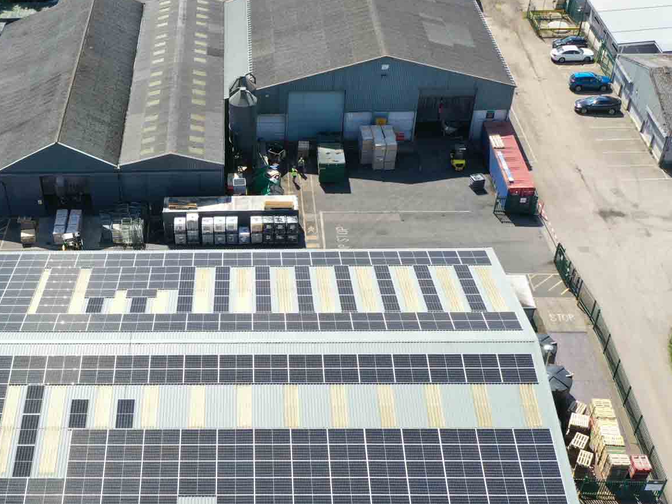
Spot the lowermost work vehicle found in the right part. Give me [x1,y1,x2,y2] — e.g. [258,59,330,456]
[451,141,466,168]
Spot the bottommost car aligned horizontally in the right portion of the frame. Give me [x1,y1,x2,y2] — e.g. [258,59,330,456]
[576,96,624,115]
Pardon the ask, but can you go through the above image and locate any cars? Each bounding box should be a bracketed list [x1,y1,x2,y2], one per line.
[553,30,591,47]
[569,72,612,92]
[552,45,593,62]
[576,96,624,115]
